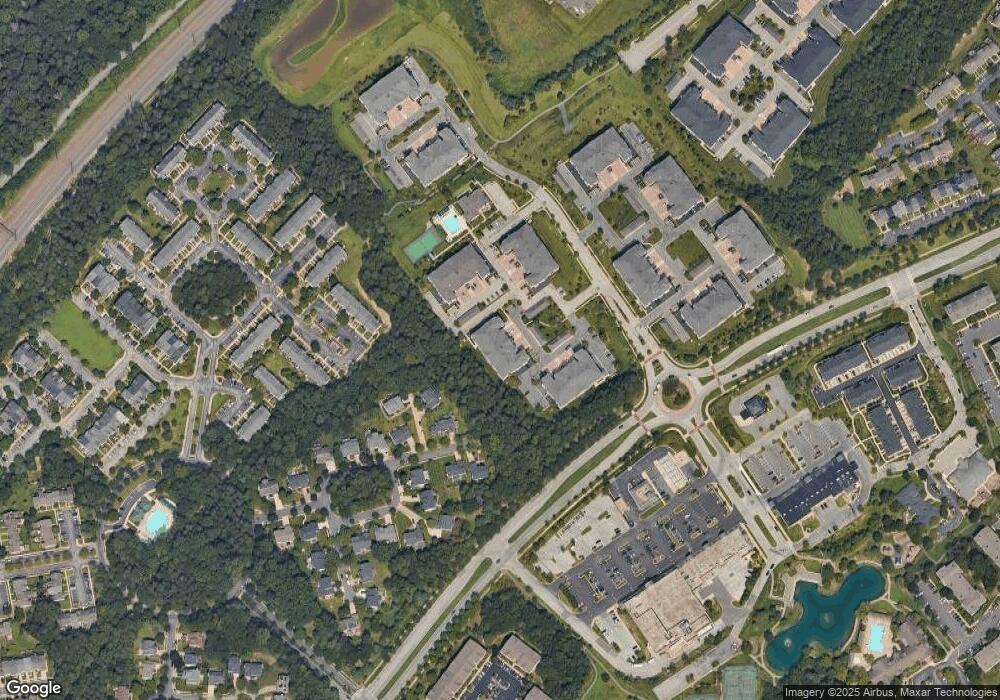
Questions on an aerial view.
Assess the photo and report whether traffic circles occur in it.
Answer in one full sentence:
Yes, you can see a traffic circle in this photo.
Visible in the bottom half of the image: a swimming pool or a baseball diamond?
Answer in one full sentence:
There is a swimming pool in the bottom half of the image.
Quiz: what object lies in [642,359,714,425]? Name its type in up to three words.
roundabout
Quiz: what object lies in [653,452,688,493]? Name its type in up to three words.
building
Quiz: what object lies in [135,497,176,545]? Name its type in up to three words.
swimming pool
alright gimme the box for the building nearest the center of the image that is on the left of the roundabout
[469,312,530,380]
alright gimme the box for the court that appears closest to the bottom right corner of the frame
[722,667,757,700]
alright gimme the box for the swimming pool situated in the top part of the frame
[433,206,468,242]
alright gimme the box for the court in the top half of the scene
[403,229,442,264]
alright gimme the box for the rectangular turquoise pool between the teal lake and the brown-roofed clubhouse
[859,614,894,662]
